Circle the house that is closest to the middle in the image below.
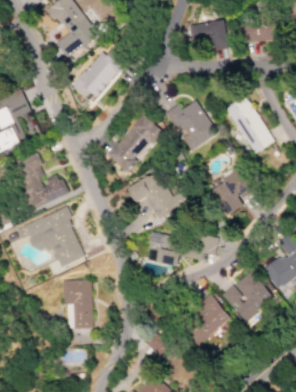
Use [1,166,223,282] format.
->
[130,172,183,215]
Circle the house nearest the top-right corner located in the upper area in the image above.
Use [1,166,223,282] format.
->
[245,26,276,42]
